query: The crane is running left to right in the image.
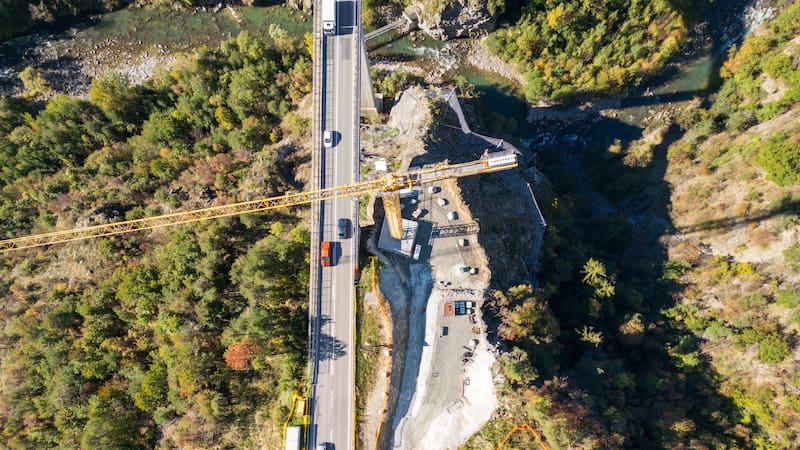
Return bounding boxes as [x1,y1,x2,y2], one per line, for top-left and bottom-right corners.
[0,152,520,252]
